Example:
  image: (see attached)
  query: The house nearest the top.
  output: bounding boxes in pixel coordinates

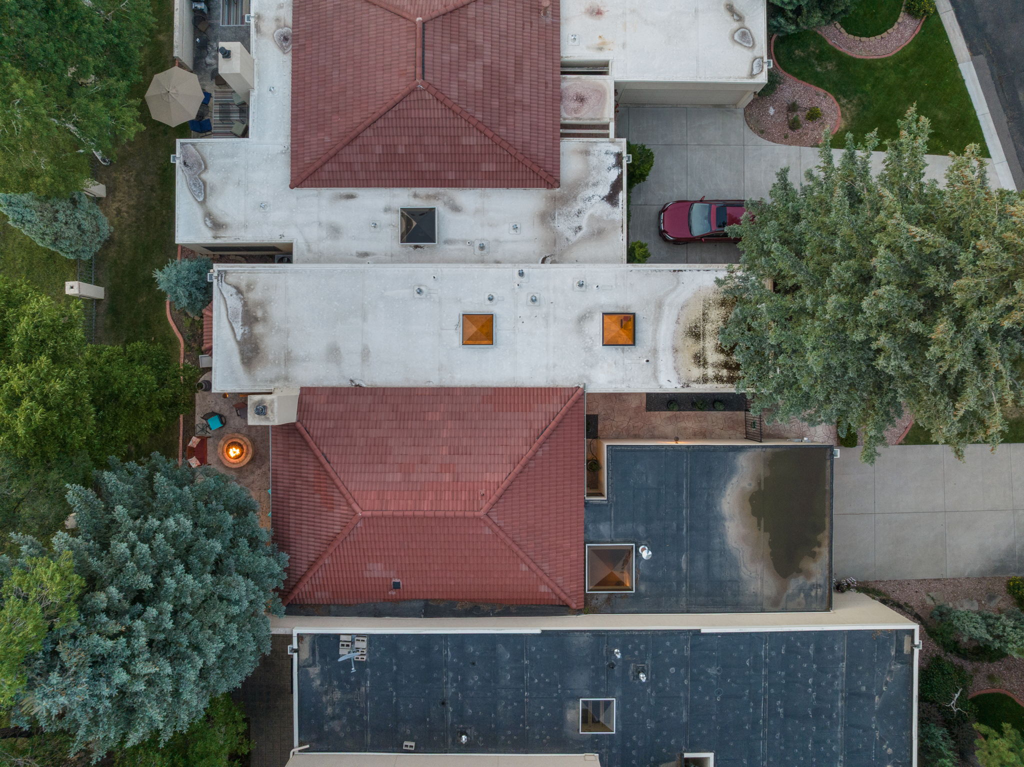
[170,0,773,264]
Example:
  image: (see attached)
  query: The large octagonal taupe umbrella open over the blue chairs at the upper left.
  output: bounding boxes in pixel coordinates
[145,66,206,128]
